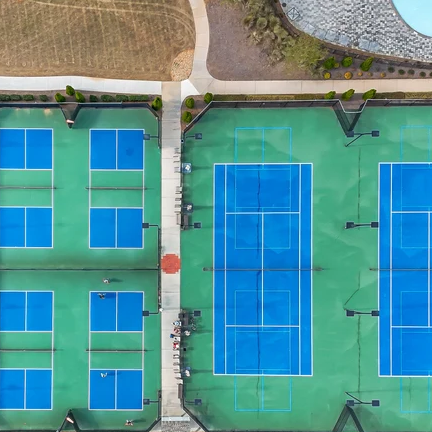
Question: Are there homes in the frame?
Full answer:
No, there's no home here.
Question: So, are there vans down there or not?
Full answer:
No, I can't see a single van in this photo.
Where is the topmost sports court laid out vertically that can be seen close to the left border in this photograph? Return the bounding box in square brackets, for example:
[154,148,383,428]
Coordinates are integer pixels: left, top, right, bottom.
[0,128,53,248]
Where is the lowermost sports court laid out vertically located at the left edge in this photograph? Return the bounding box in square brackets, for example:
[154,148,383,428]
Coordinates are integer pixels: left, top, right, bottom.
[0,291,53,410]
